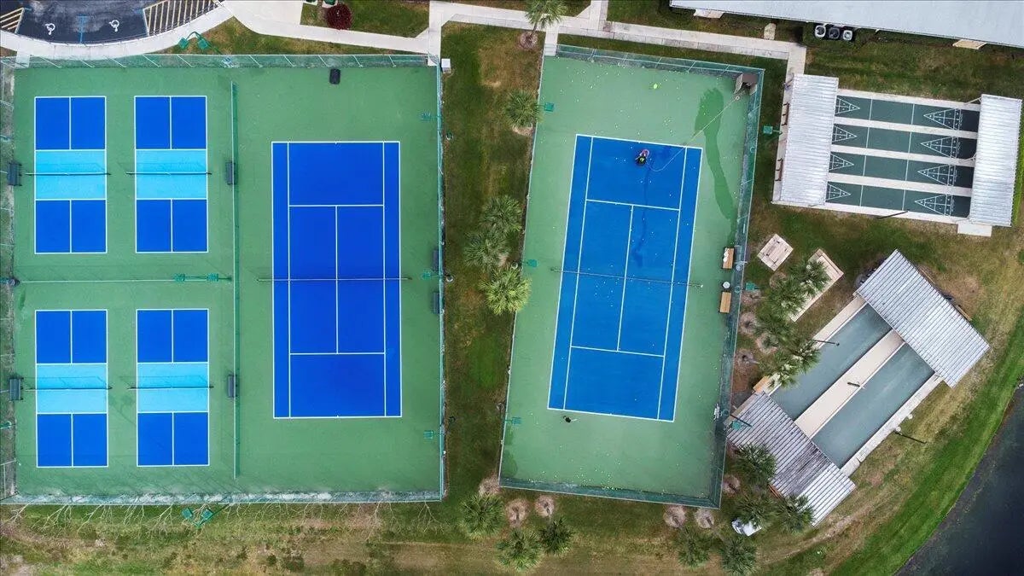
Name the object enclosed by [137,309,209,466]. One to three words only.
sports court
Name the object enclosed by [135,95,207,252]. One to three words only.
sports court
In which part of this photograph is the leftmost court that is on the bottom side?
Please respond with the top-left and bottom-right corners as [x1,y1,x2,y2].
[35,310,108,467]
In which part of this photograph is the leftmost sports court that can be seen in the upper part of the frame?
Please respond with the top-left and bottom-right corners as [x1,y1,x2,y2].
[34,96,107,253]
